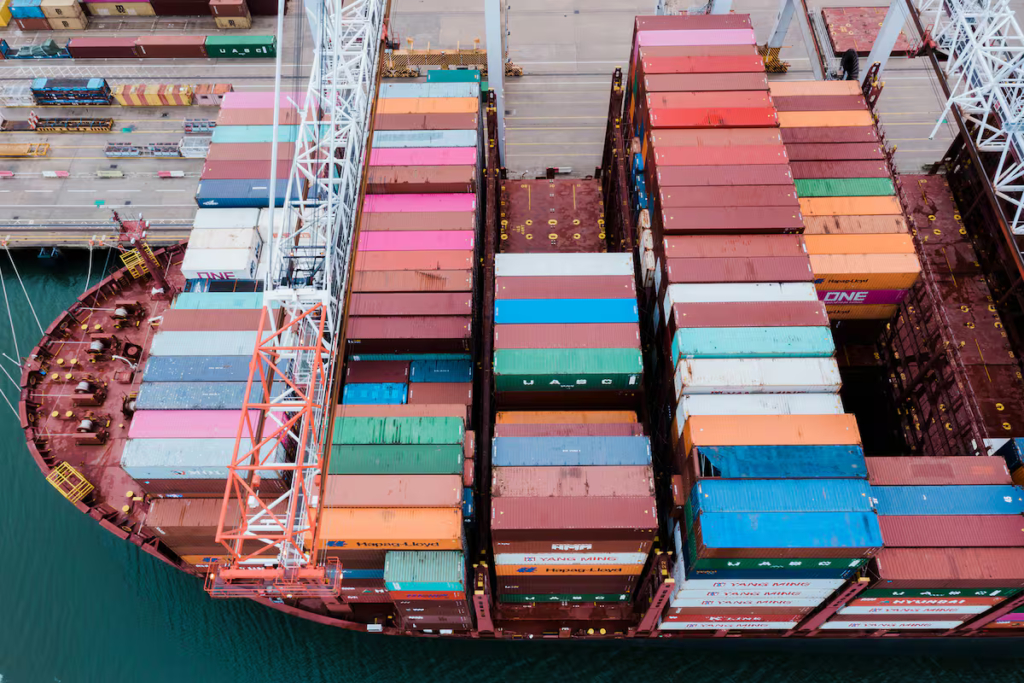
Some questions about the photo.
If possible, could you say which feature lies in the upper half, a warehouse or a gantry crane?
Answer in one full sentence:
What appears in the upper half is a gantry crane.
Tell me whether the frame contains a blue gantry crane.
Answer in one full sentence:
No, this view has no blue gantry crane in it.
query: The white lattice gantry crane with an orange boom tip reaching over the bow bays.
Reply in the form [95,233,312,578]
[202,0,529,601]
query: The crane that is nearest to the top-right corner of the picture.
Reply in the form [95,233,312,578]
[658,0,1024,309]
